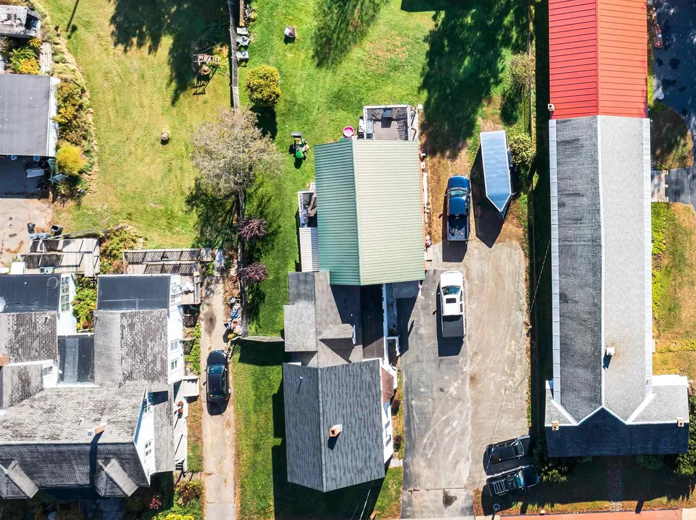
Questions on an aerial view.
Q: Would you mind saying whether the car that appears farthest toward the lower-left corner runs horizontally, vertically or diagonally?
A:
vertically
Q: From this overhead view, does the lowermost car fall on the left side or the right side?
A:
right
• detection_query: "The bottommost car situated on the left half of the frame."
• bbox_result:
[203,349,232,404]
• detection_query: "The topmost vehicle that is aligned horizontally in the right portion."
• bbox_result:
[480,433,534,464]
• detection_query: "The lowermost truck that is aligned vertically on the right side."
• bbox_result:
[436,271,464,338]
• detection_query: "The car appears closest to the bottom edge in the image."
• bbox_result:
[487,464,540,498]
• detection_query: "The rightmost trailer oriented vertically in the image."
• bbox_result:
[480,129,514,225]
